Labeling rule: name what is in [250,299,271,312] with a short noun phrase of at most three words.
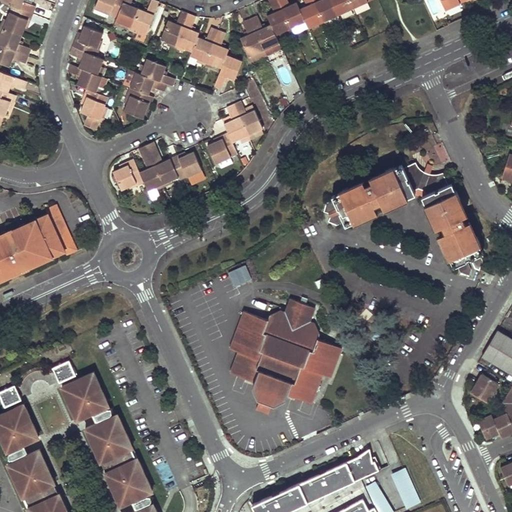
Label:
vehicle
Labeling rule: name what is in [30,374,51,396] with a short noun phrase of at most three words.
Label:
fountain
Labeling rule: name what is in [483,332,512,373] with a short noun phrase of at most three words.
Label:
building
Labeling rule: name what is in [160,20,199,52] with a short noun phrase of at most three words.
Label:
house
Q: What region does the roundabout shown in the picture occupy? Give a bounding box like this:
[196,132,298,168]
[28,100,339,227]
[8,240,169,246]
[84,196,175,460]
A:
[98,227,157,286]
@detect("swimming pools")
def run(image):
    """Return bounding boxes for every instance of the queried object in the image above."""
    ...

[115,69,126,80]
[9,68,22,76]
[277,65,292,86]
[429,0,442,16]
[110,46,120,58]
